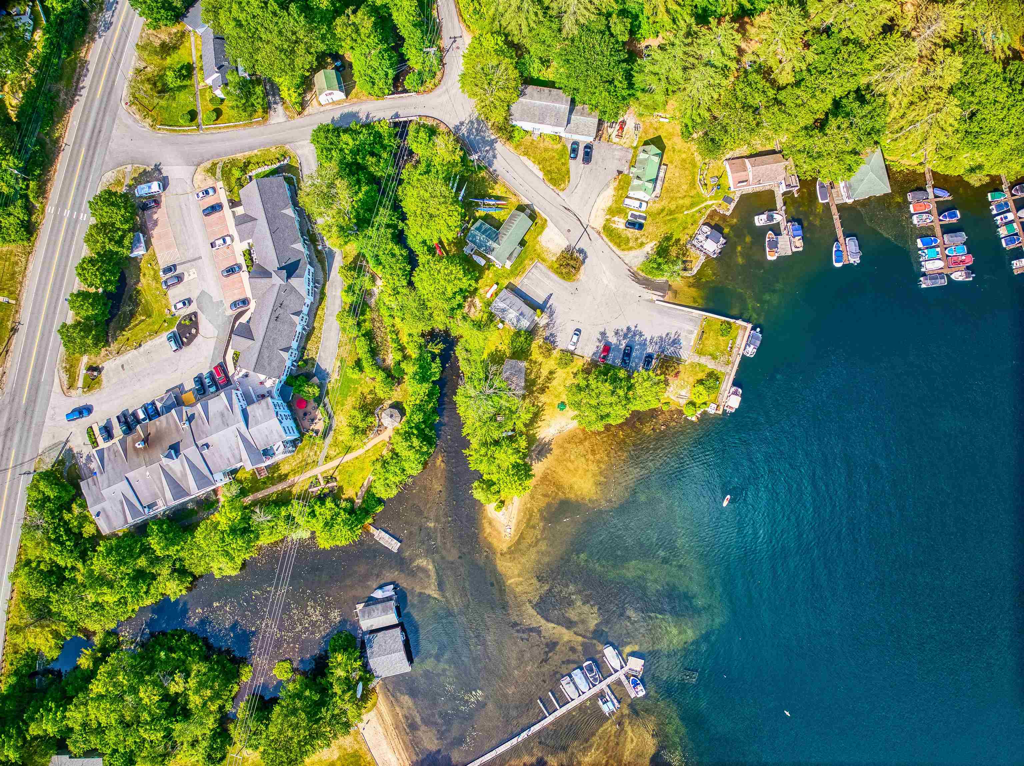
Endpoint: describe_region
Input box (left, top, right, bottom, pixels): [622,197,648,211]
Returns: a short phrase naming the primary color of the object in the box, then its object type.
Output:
white vehicle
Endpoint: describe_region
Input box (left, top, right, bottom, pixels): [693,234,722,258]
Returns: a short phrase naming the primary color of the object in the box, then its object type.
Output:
white boat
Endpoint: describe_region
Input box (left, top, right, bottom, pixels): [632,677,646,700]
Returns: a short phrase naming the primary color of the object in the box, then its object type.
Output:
white boat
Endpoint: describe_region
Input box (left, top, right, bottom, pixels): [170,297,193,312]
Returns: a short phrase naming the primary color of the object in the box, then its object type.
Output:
white car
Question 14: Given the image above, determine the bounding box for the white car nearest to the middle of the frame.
[568,328,581,350]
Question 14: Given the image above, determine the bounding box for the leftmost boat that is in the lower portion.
[372,583,400,598]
